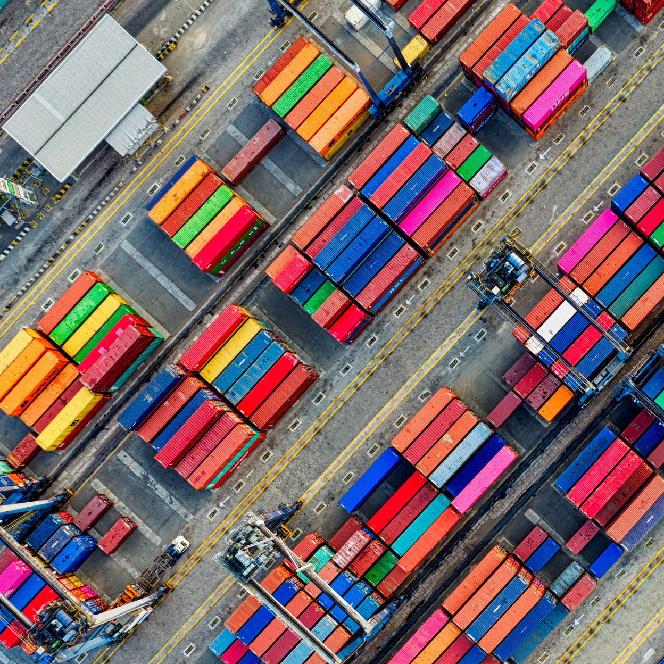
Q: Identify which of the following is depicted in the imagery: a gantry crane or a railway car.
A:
gantry crane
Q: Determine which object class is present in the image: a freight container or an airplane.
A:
freight container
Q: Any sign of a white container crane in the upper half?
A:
No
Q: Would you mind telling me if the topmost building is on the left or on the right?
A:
left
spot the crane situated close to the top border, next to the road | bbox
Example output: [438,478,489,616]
[262,0,429,129]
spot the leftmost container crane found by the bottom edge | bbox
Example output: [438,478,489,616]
[0,477,183,664]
